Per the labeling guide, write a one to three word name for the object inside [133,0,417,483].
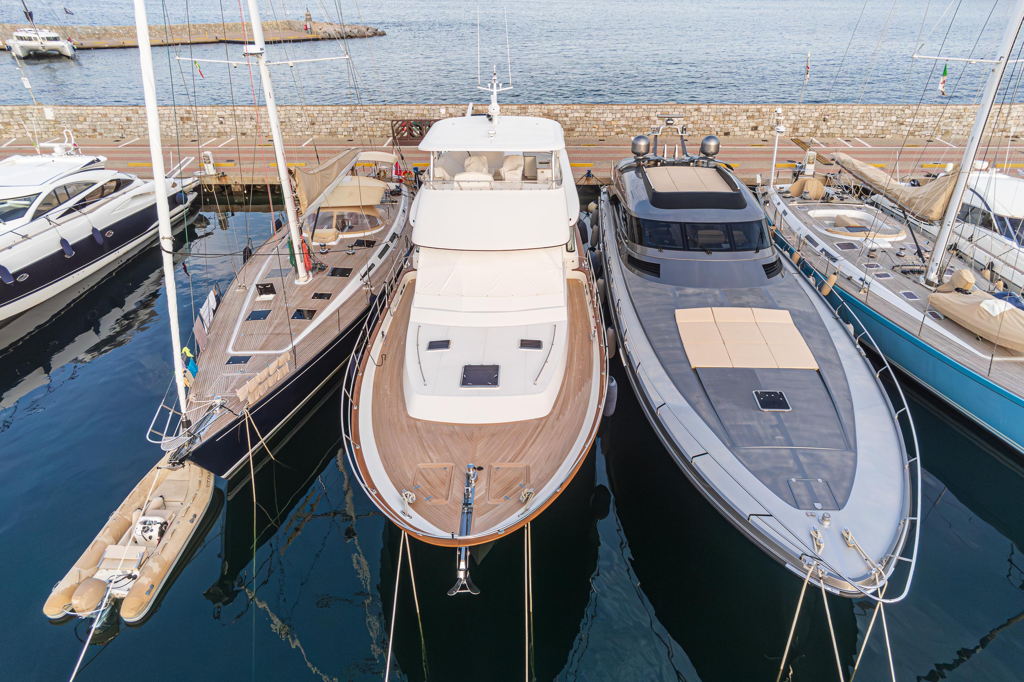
boat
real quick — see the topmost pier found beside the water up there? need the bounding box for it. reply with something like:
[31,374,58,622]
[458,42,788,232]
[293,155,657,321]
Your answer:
[0,29,321,54]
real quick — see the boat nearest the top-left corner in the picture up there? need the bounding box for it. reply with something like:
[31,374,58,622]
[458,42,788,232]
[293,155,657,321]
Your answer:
[10,0,80,56]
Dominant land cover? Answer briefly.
water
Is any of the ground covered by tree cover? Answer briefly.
No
